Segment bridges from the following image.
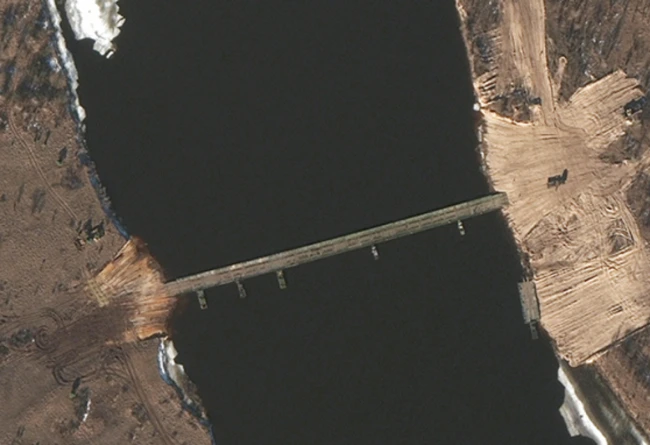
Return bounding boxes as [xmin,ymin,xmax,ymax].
[166,194,507,296]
